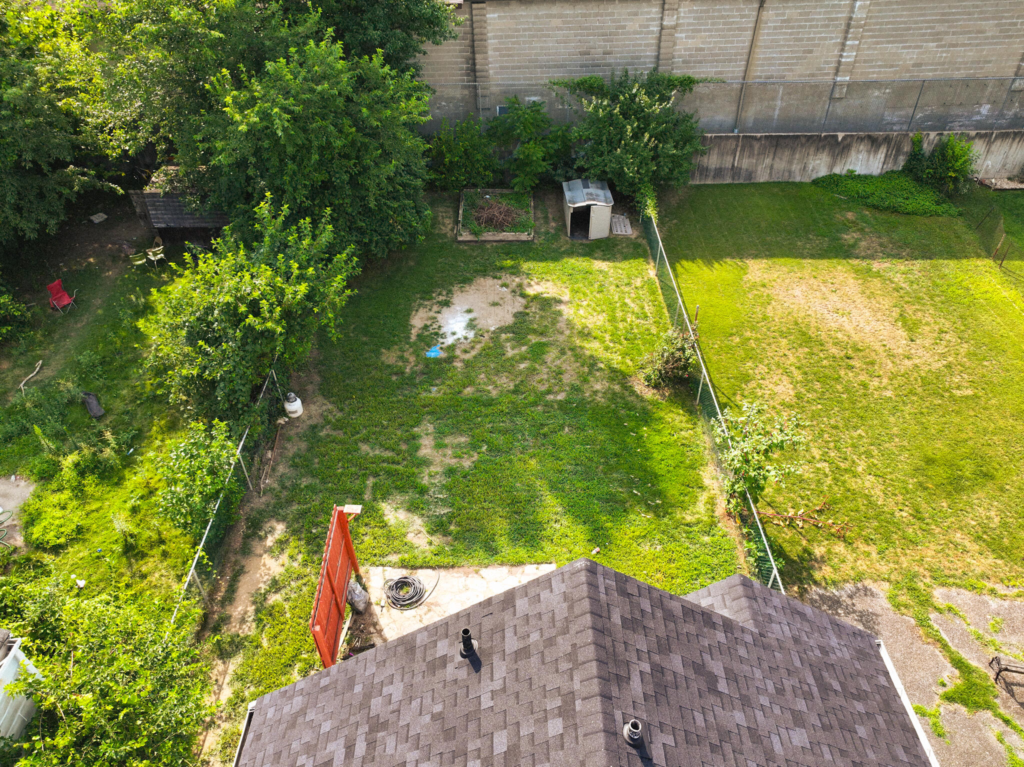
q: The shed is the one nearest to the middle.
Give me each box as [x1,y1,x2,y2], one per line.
[564,180,617,240]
